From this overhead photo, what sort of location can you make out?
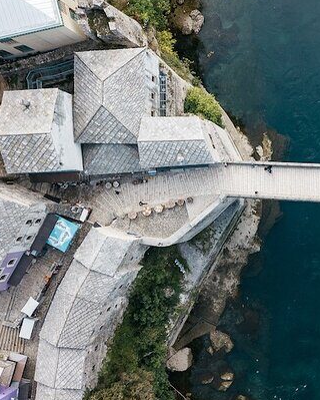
residential area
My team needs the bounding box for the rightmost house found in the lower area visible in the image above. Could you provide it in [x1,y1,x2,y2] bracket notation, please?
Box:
[33,227,150,400]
